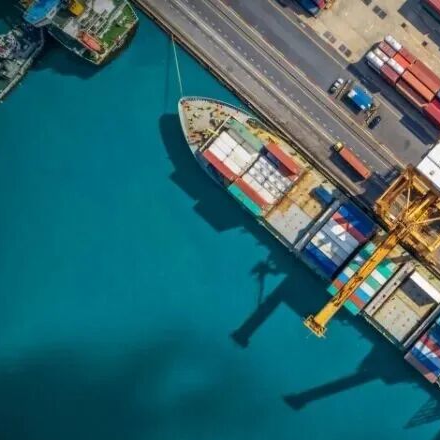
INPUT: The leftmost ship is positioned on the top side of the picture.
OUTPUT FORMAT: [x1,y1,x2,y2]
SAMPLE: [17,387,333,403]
[0,0,41,94]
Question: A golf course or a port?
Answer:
port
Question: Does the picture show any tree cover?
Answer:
No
